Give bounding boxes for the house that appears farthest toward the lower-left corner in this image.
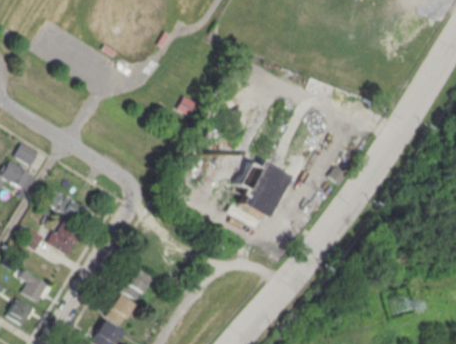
[4,296,32,325]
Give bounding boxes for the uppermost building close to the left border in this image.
[12,142,38,164]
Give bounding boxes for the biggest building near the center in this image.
[242,162,292,216]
